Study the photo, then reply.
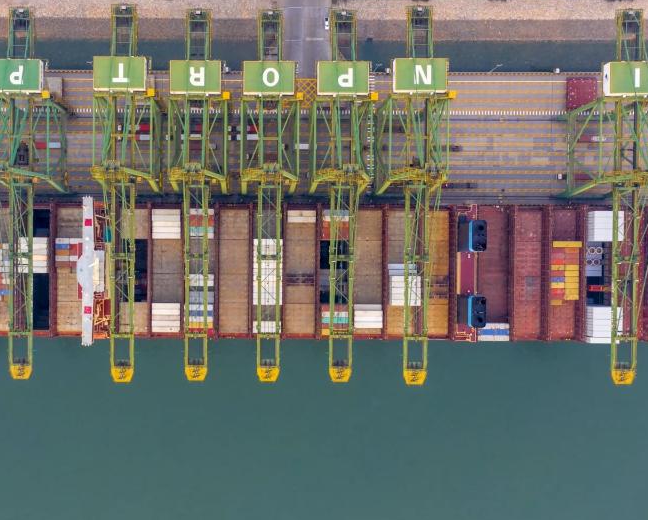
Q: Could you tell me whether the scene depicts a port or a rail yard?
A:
port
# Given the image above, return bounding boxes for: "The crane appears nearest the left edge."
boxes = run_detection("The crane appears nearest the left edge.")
[0,6,78,379]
